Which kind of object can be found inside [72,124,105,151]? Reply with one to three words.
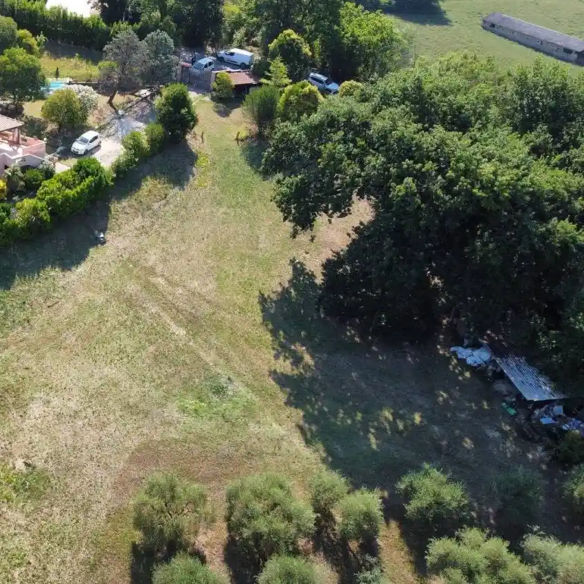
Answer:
car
